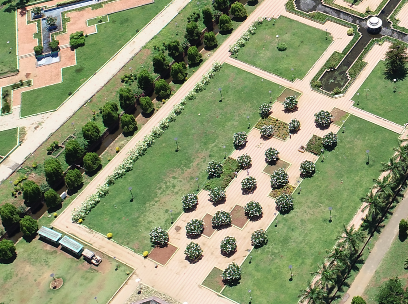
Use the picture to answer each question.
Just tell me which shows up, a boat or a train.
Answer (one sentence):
I can see a train in this picture.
